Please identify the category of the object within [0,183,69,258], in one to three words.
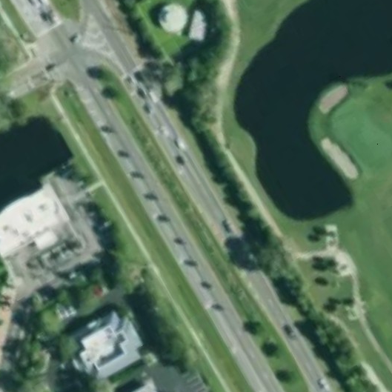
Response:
building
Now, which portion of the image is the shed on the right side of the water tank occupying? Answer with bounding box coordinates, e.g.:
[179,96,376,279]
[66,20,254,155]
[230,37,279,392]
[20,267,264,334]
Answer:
[188,10,205,42]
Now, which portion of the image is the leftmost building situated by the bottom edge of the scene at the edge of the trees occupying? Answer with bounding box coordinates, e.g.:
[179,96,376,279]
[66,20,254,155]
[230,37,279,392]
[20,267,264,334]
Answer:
[68,312,143,379]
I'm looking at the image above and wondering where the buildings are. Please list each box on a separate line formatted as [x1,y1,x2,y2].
[0,183,69,258]
[68,312,143,379]
[135,379,157,392]
[188,10,205,42]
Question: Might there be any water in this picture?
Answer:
Yes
